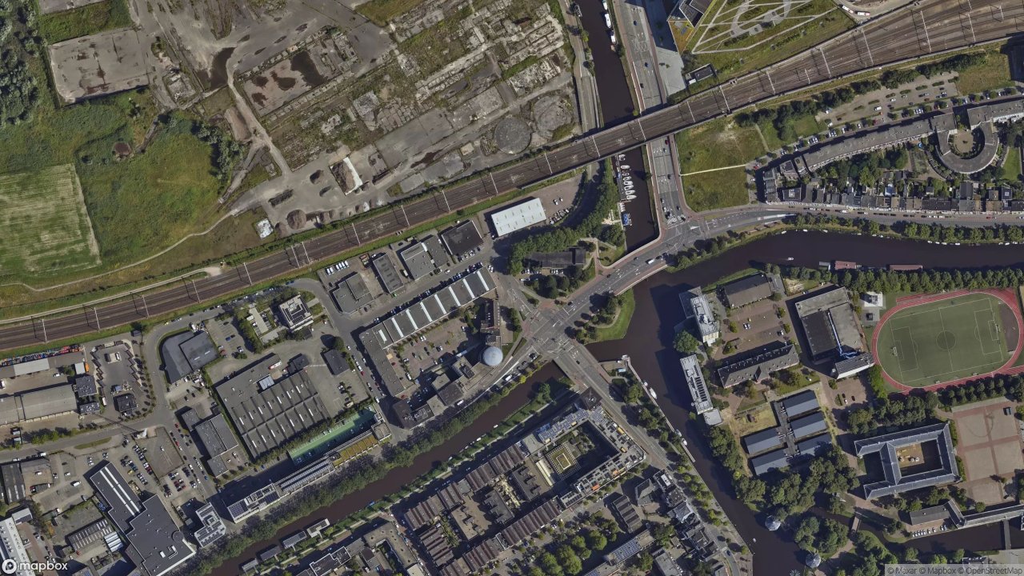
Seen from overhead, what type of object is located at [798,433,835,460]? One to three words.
shed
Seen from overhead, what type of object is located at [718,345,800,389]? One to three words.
building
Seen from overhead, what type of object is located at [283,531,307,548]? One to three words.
boat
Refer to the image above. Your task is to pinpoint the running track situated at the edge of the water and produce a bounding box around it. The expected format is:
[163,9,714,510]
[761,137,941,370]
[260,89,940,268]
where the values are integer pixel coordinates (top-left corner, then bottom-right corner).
[872,288,1024,391]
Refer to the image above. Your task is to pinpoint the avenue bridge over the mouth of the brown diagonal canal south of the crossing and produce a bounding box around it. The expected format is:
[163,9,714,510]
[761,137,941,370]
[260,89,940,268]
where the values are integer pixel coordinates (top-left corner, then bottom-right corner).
[546,342,608,401]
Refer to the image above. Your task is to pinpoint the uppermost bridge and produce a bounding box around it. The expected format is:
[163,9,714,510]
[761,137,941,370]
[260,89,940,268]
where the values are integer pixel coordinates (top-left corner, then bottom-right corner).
[606,210,672,296]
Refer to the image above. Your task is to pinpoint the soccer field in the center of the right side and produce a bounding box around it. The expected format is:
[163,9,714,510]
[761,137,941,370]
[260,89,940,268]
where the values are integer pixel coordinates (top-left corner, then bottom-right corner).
[864,281,1024,397]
